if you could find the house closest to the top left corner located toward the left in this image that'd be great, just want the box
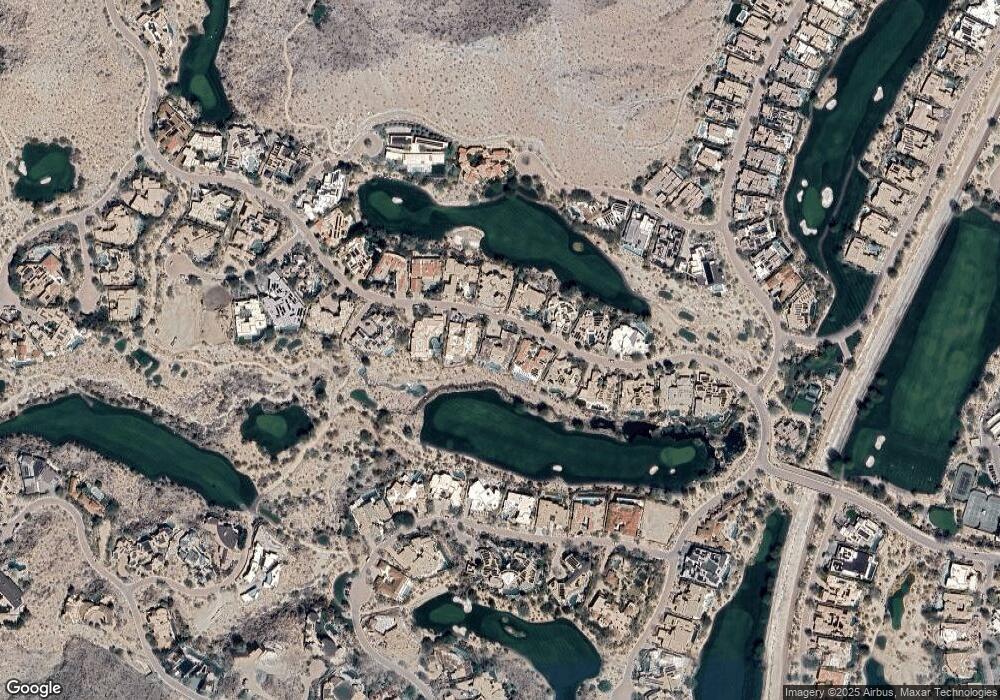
[132,6,172,51]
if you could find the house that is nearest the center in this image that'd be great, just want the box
[478,325,518,370]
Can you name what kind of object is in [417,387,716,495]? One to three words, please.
golf course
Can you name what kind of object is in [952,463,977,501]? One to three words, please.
tennis court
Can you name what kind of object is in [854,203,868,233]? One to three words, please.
swimming pool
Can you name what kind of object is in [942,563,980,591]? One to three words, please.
house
